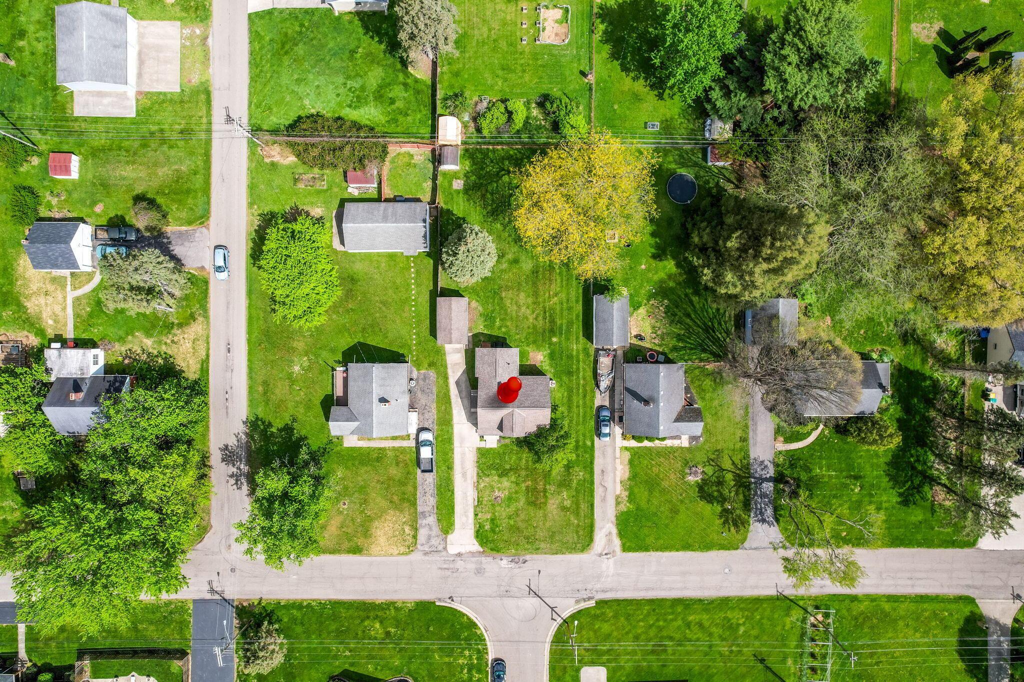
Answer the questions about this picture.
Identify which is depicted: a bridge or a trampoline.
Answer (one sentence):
I can see a trampoline in this picture.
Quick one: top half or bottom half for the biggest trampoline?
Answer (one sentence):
It is in the top half that the biggest trampoline appears.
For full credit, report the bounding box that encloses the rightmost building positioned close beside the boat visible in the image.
[623,364,706,440]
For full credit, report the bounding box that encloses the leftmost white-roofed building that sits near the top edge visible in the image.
[53,1,137,93]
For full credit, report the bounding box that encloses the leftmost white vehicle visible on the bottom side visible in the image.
[417,428,435,474]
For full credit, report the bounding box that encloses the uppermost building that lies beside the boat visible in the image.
[593,294,629,346]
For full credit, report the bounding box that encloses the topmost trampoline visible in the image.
[666,174,697,204]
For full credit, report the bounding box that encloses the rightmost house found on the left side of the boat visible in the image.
[471,348,552,439]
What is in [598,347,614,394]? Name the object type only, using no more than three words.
boat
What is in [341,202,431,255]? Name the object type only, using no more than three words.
building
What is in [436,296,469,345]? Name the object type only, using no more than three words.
building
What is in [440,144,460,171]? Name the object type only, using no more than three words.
shed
